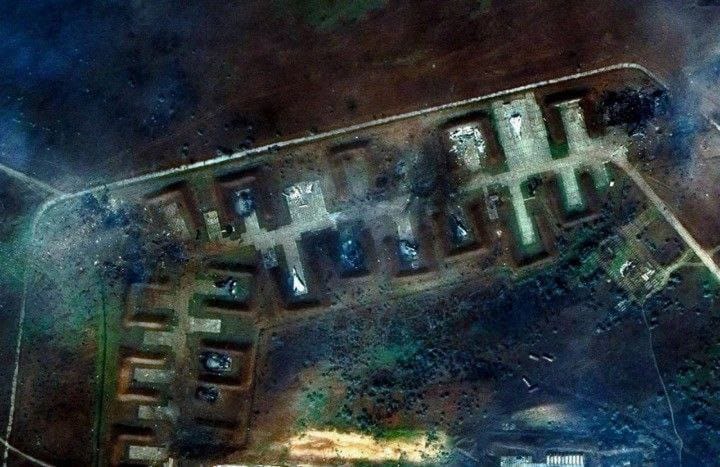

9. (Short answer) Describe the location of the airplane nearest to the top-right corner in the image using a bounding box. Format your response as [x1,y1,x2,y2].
[510,114,523,142]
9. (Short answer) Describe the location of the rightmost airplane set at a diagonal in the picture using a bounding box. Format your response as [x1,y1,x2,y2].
[453,215,472,241]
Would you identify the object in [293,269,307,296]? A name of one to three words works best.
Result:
airplane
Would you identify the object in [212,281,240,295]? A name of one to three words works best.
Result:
airplane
